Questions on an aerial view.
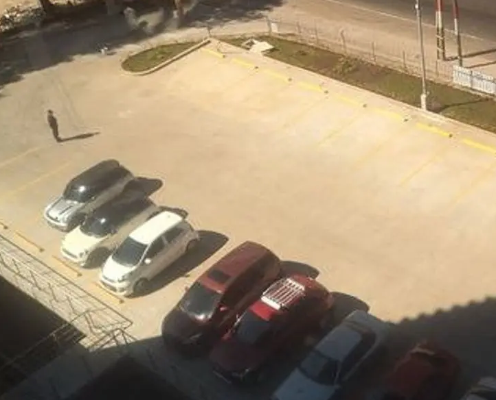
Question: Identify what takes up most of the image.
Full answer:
The scene is dominated by paved ground.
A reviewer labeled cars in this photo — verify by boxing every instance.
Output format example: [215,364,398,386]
[63,189,167,266]
[101,212,206,295]
[164,245,292,356]
[211,271,333,383]
[47,159,145,229]
[363,345,461,400]
[271,310,394,400]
